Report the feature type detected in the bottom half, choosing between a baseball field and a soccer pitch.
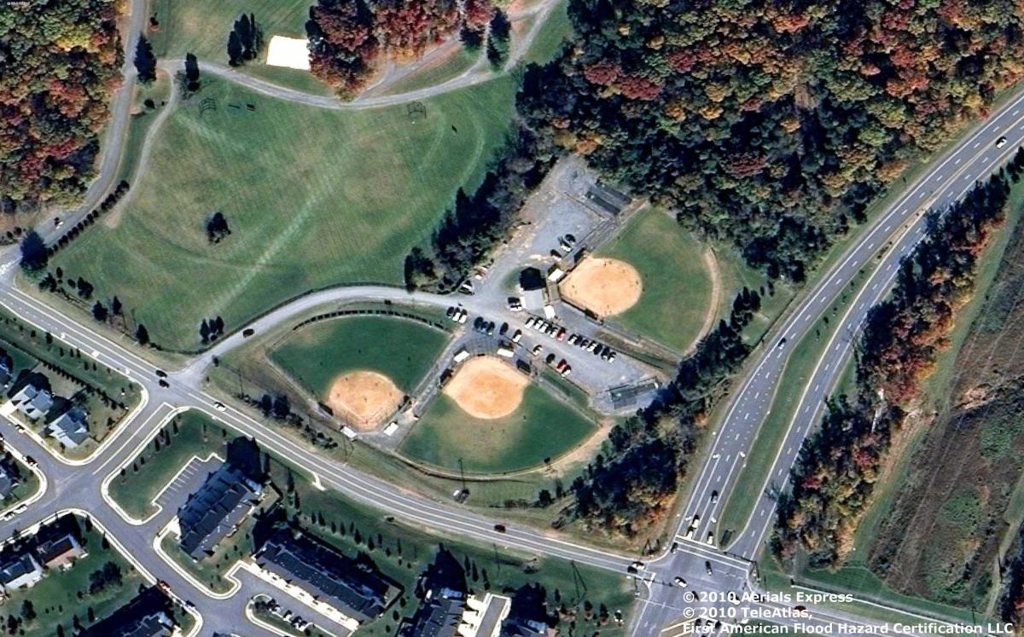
baseball field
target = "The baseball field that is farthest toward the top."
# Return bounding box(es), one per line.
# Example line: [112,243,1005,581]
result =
[559,205,720,353]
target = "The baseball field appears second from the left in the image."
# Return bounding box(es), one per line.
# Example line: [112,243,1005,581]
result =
[394,356,608,480]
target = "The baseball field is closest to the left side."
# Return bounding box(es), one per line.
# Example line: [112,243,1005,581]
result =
[267,316,449,432]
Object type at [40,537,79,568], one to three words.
house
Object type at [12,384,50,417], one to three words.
house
